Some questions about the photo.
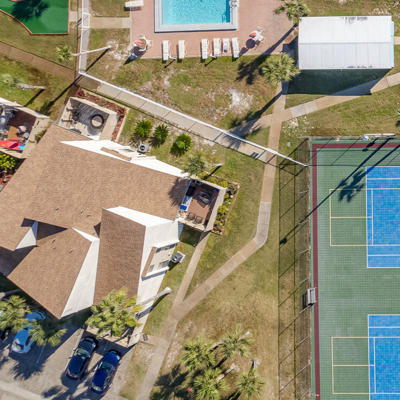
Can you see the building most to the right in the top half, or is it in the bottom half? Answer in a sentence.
The building most to the right sits in the top half of the picture.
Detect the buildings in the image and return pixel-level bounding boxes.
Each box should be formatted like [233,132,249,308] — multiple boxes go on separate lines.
[298,16,394,70]
[0,123,200,319]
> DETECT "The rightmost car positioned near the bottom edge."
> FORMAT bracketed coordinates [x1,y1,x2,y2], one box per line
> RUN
[91,351,123,395]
